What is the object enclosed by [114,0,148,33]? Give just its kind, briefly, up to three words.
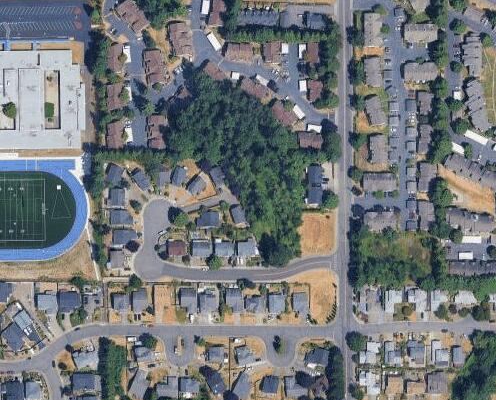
building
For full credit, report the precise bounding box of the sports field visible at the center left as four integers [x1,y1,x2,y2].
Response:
[0,171,76,249]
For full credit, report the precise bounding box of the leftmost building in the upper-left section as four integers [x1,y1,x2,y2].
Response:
[0,40,85,149]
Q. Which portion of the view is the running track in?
left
